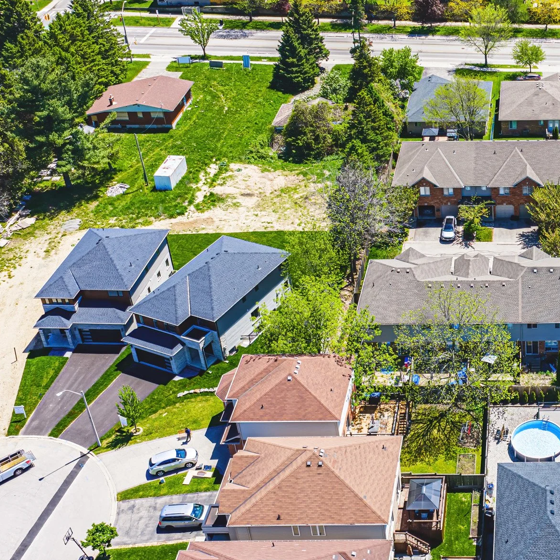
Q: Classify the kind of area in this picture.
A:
residential area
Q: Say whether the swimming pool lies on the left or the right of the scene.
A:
right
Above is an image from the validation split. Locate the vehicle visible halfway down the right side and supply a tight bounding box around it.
[439,211,456,239]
